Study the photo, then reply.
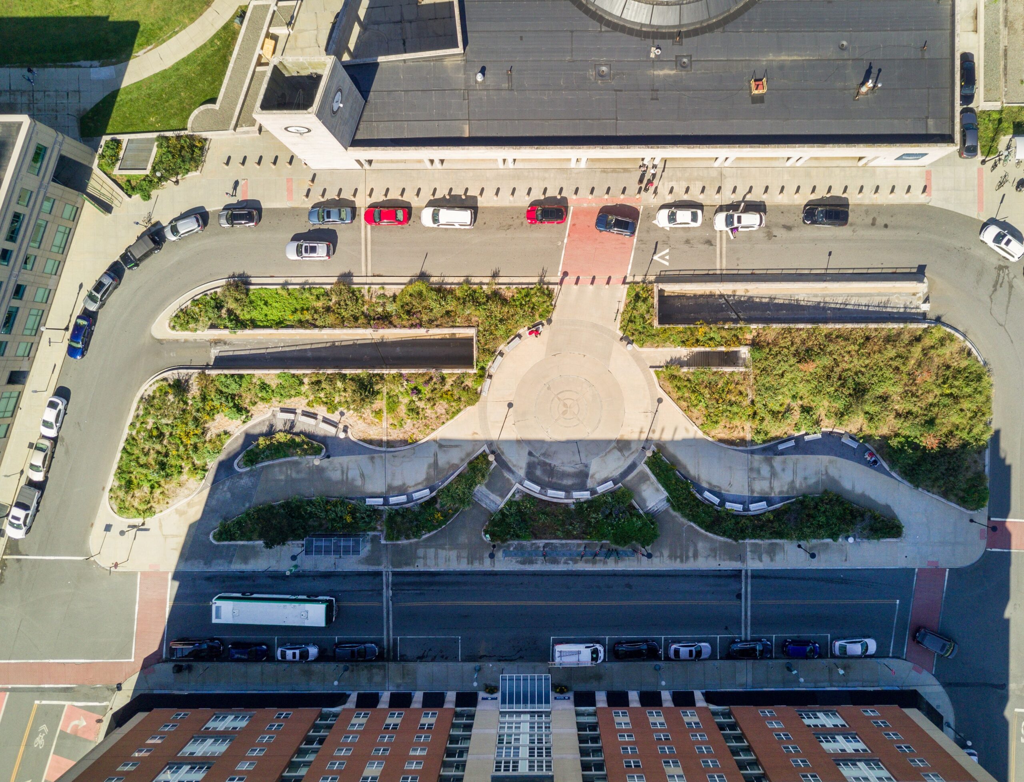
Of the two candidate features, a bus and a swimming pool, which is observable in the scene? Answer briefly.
bus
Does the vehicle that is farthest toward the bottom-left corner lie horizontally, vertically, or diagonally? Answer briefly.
horizontally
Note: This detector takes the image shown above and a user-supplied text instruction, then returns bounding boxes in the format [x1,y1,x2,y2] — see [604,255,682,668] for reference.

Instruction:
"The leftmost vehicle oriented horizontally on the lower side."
[167,638,224,662]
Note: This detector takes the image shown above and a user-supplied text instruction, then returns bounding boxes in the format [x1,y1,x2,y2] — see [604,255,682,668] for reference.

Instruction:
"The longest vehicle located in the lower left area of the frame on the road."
[210,594,335,629]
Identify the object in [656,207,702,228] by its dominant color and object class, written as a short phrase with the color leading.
white car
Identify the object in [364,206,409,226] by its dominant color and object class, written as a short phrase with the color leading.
red car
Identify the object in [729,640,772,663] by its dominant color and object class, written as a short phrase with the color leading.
black car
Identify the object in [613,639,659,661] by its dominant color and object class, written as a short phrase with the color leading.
black car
